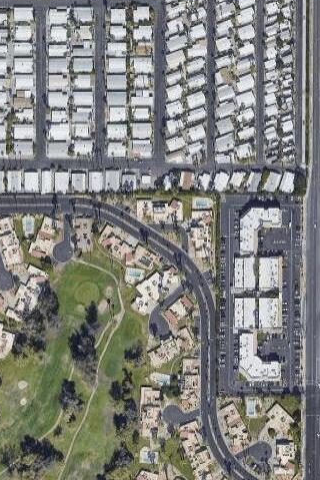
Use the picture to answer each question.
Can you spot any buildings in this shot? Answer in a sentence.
Yes, this view includes a building.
